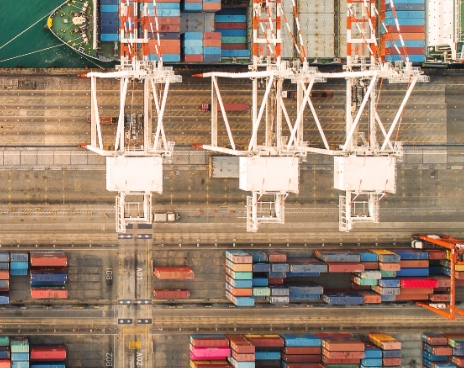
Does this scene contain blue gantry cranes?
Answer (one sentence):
No, there's no blue gantry crane here.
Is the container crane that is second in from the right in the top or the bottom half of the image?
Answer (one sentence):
The top half of the photo is where the container crane that is second in from the right is.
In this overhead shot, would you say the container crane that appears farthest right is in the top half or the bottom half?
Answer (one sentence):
You can find the container crane that appears farthest right in the bottom half.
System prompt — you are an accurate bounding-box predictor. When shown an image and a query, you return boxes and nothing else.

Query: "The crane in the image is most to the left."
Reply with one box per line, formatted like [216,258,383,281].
[73,0,187,235]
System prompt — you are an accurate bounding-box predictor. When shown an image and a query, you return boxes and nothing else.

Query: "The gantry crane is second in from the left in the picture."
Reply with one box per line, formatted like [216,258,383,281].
[189,0,329,235]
